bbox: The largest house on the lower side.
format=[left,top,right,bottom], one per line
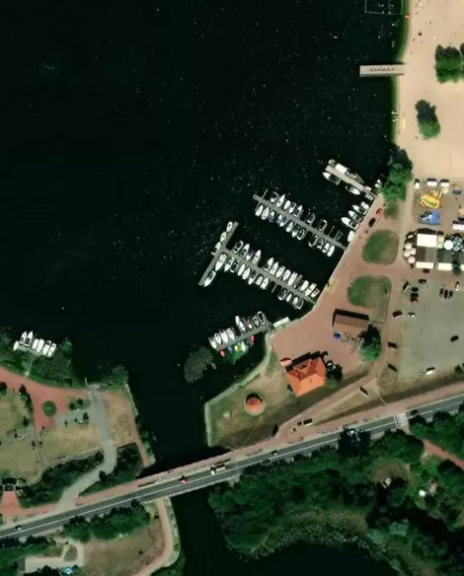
[287,356,326,397]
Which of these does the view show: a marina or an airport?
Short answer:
marina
